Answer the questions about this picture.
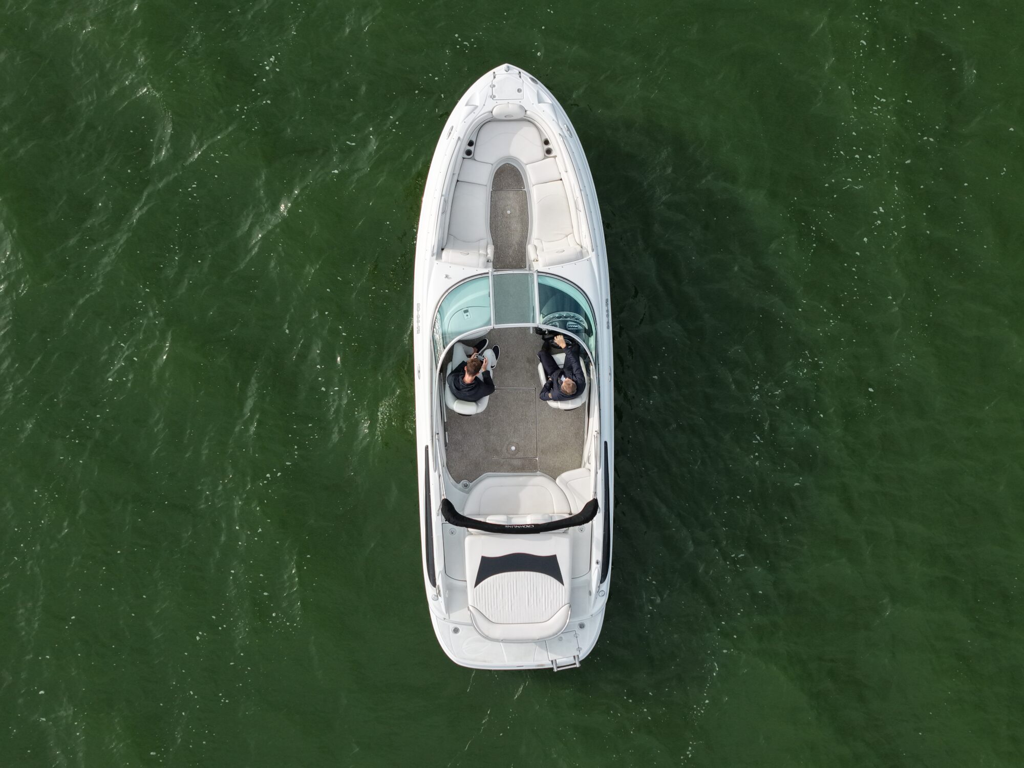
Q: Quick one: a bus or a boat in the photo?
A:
boat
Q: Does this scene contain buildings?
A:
No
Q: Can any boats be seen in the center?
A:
Yes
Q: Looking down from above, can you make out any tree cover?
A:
No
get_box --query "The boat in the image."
[412,63,616,672]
